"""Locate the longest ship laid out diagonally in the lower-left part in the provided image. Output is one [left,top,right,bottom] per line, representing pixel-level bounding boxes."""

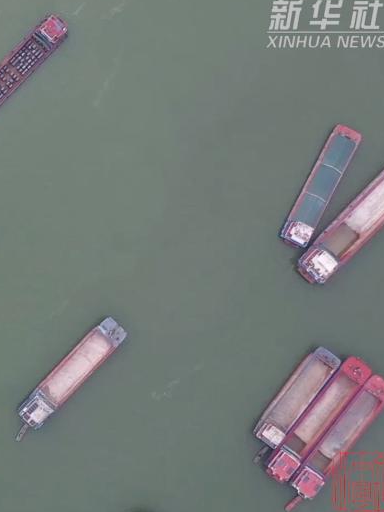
[19,316,127,429]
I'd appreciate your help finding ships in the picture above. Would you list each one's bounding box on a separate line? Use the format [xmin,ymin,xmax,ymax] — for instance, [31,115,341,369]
[280,124,361,248]
[0,14,69,106]
[266,354,373,483]
[19,316,127,429]
[254,344,342,448]
[289,373,384,500]
[300,168,384,288]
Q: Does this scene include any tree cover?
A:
No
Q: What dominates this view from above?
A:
water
